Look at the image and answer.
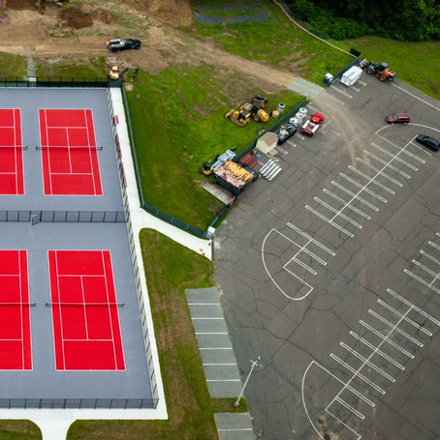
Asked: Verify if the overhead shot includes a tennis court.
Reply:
Yes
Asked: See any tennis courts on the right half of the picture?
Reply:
No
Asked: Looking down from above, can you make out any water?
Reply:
No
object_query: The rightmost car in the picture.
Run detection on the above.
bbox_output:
[416,135,440,152]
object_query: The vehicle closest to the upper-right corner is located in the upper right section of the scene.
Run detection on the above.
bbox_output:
[361,61,391,82]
